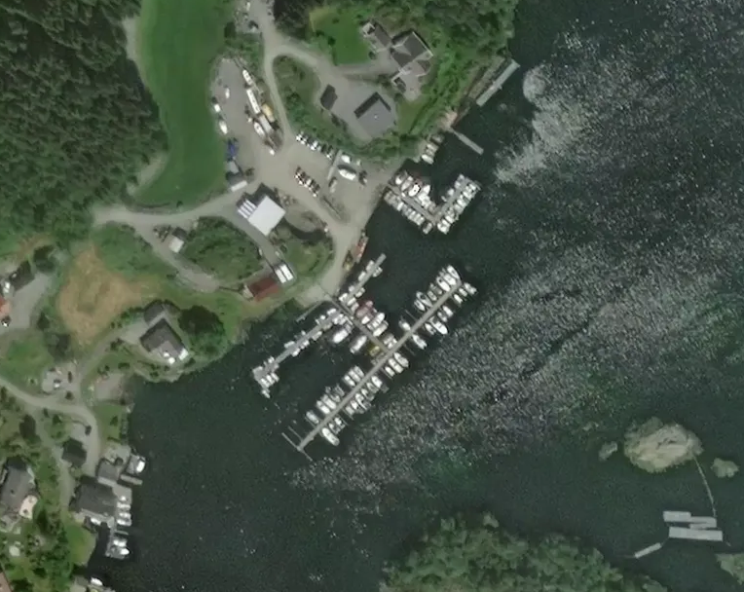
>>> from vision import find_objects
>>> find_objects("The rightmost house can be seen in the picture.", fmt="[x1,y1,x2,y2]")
[388,32,437,83]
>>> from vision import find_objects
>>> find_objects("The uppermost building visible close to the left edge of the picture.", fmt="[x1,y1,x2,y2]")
[8,262,37,290]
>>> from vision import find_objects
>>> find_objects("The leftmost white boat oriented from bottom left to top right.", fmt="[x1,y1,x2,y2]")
[132,457,146,476]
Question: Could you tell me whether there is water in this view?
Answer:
Yes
